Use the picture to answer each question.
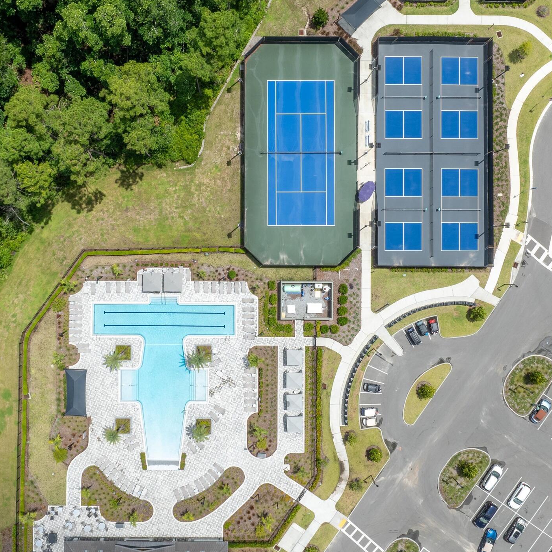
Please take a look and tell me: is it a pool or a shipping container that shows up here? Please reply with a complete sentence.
I can see a pool in this picture.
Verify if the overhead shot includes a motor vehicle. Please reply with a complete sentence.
Yes, looking at the shot, I can spot a motor vehicle.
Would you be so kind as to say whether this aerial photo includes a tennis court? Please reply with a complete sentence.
Yes, this view includes a tennis court.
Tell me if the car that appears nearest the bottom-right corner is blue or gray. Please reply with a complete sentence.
The car that appears nearest the bottom-right corner looks gray in the image.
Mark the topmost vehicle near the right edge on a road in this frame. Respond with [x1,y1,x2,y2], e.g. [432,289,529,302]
[531,398,552,425]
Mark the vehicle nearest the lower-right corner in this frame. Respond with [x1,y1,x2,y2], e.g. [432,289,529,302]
[505,519,529,547]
